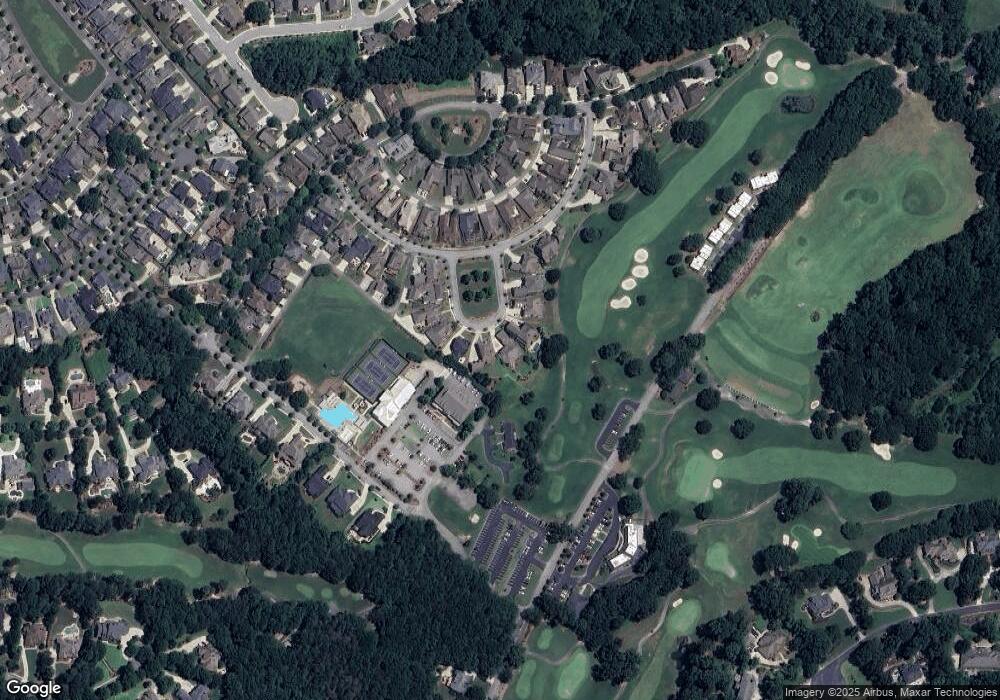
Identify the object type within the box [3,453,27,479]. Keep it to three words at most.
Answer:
house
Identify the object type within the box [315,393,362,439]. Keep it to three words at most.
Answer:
swimming pool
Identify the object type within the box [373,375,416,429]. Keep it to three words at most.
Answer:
building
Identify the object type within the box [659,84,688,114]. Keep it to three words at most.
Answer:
house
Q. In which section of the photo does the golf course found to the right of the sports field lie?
right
